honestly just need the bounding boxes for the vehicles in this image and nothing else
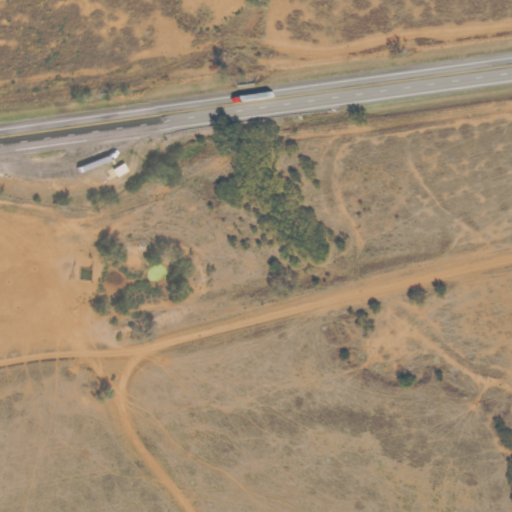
[78,152,118,172]
[232,91,274,102]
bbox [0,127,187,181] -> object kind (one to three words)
service area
